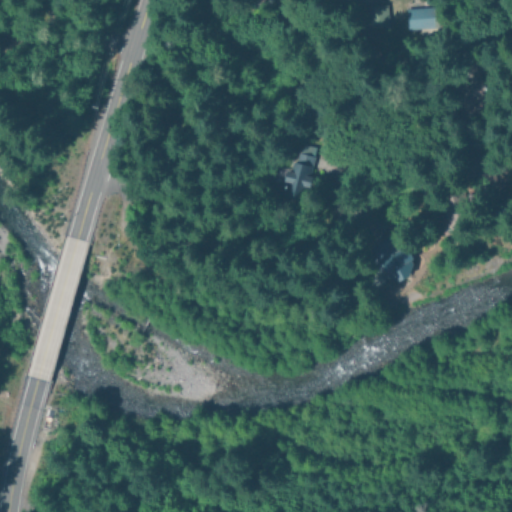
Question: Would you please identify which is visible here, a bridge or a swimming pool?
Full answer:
I can see a bridge in this picture.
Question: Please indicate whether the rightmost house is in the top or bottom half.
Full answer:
Seen from above, the rightmost house lies in the top half of the view.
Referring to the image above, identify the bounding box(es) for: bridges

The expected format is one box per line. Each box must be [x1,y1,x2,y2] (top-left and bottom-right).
[27,232,92,384]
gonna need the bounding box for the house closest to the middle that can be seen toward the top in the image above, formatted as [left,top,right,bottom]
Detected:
[284,143,319,196]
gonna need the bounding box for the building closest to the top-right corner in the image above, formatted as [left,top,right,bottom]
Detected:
[408,6,437,34]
